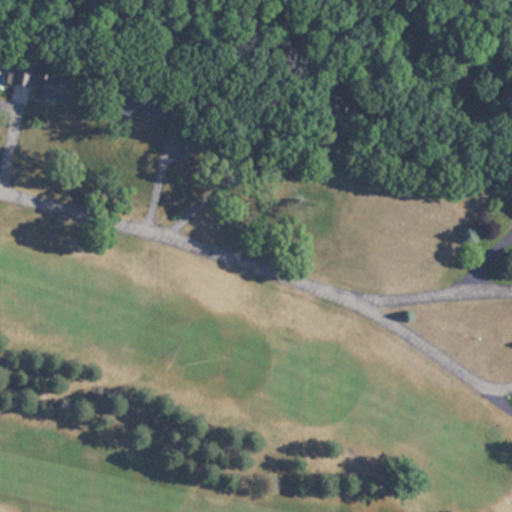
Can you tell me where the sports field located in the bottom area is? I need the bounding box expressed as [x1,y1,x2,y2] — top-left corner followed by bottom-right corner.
[166,270,270,408]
